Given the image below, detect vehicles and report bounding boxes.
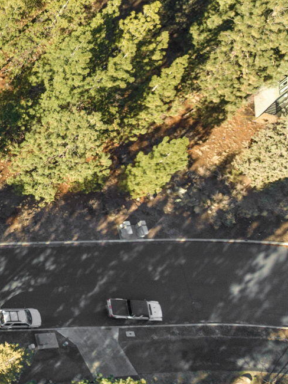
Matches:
[0,307,46,331]
[107,300,168,324]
